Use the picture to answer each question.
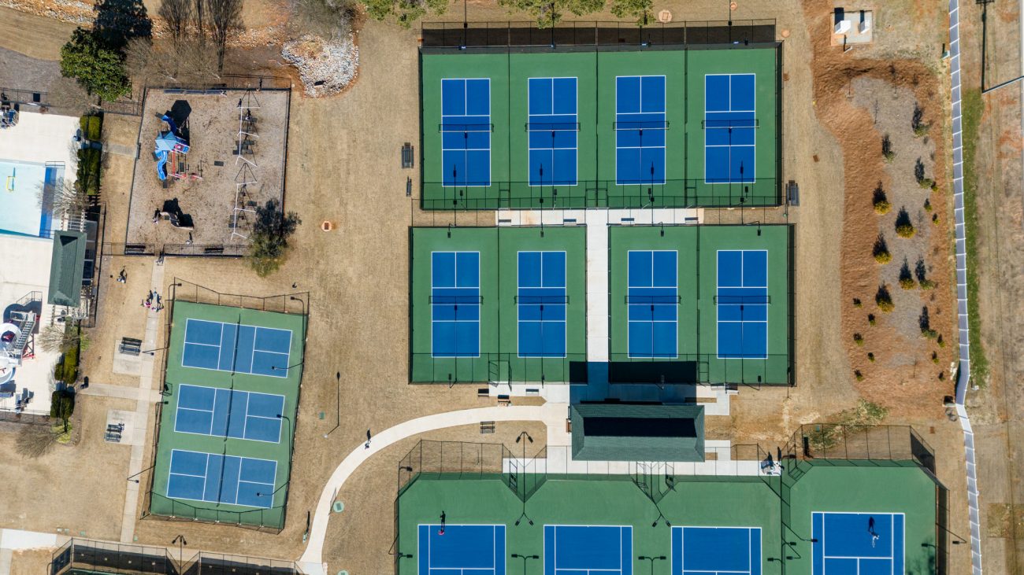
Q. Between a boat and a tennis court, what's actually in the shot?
tennis court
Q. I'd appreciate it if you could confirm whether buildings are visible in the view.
Yes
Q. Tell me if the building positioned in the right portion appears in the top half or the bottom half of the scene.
bottom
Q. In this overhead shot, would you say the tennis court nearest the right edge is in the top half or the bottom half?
bottom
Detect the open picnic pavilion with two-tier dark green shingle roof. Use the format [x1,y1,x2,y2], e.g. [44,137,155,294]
[571,400,705,462]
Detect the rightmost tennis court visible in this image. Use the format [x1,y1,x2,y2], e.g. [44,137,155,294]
[782,460,936,575]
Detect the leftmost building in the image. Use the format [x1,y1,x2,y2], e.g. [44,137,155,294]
[48,208,102,327]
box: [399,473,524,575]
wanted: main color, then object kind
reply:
green tennis court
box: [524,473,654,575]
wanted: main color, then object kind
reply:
green tennis court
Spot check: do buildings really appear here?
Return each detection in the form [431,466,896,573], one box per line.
[48,208,102,327]
[571,400,705,462]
